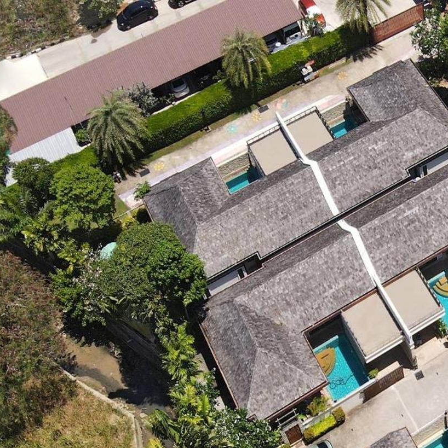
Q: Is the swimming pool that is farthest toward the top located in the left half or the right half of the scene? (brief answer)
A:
right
